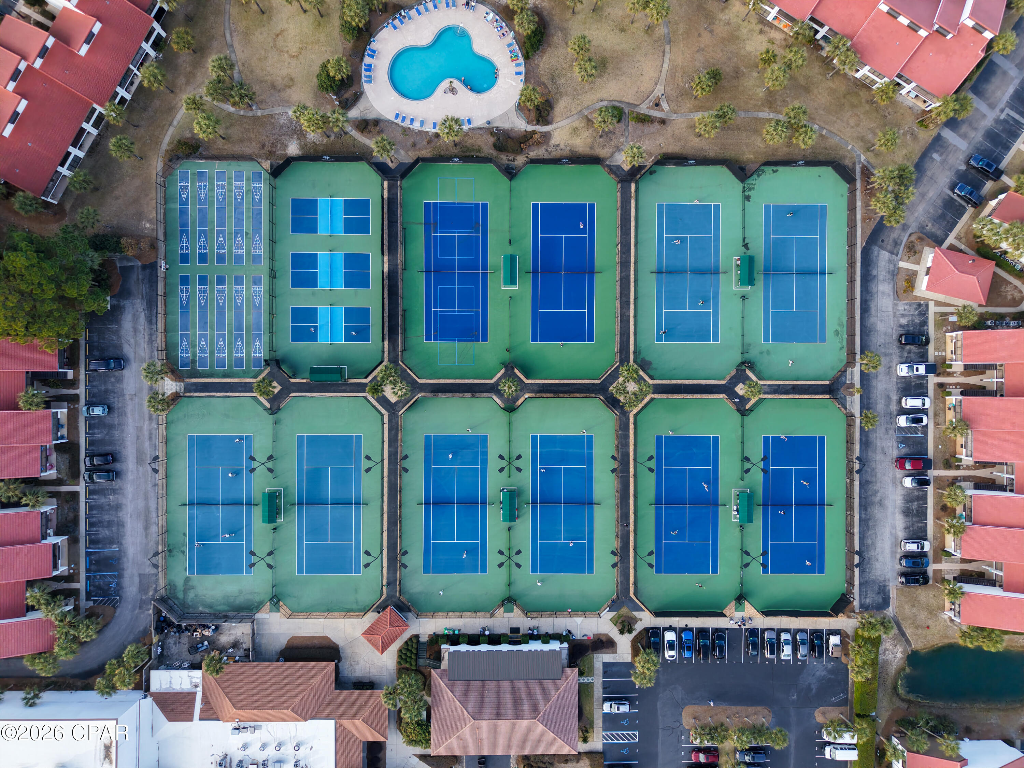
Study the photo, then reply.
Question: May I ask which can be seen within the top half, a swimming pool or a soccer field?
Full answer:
Visible within the top half is a swimming pool.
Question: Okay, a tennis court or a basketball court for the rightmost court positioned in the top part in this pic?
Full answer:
The rightmost court positioned in the top part in the image is a tennis court.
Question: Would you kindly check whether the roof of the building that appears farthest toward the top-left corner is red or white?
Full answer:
The color of the roof of the building that appears farthest toward the top-left corner is red.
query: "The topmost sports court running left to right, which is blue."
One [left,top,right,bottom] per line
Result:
[290,198,371,235]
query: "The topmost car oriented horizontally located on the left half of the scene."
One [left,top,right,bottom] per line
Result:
[90,357,126,371]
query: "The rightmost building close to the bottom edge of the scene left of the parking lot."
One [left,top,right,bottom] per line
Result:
[431,627,579,756]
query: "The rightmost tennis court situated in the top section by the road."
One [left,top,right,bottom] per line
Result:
[741,166,847,380]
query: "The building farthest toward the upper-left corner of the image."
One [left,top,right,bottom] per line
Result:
[0,0,185,204]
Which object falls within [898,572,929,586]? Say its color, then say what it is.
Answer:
black car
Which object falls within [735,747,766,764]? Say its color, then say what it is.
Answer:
blue car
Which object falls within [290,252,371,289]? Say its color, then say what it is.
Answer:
blue sports court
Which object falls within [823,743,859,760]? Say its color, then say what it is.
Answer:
white vehicle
